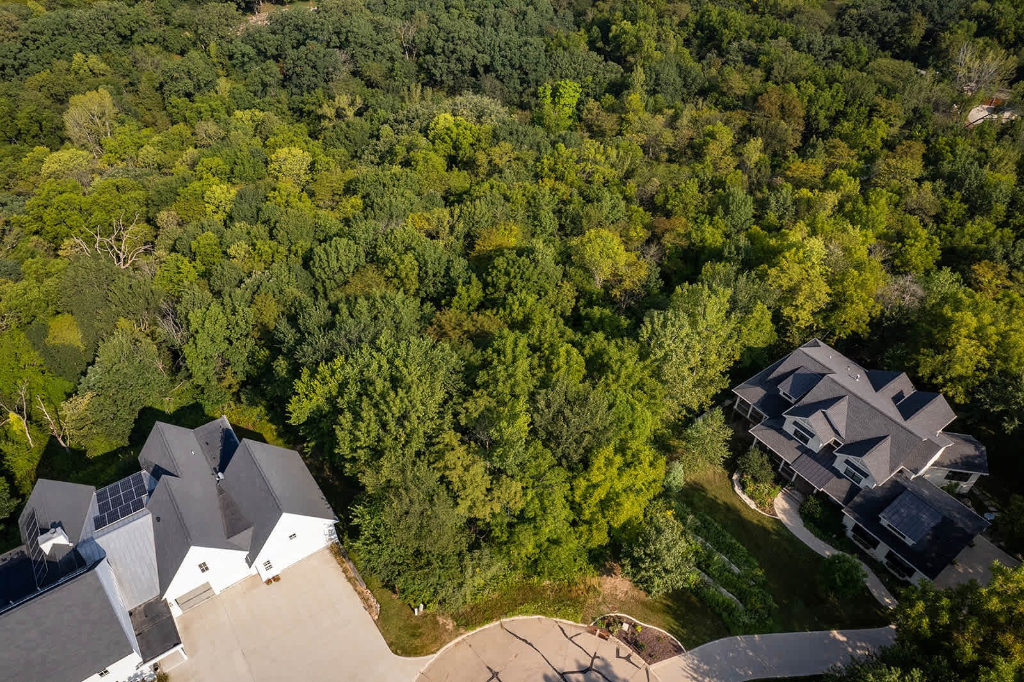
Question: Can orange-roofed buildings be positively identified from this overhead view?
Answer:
No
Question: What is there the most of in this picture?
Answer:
trees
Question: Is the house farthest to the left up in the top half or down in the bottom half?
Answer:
bottom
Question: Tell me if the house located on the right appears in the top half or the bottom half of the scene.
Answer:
bottom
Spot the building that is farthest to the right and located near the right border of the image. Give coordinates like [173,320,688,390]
[729,337,991,586]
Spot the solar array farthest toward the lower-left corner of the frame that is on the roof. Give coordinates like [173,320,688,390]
[24,509,46,586]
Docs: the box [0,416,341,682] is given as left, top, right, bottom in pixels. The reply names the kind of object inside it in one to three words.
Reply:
house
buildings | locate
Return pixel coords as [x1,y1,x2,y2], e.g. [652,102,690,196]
[0,416,341,682]
[729,337,991,586]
